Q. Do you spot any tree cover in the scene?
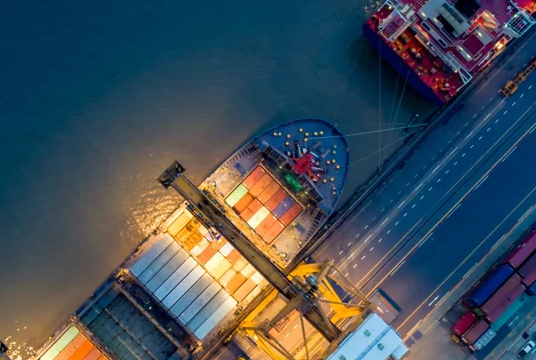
No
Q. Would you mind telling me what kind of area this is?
port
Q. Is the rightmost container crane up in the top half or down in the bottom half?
bottom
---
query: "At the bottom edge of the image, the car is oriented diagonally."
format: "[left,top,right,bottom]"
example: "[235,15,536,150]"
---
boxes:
[517,339,535,358]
